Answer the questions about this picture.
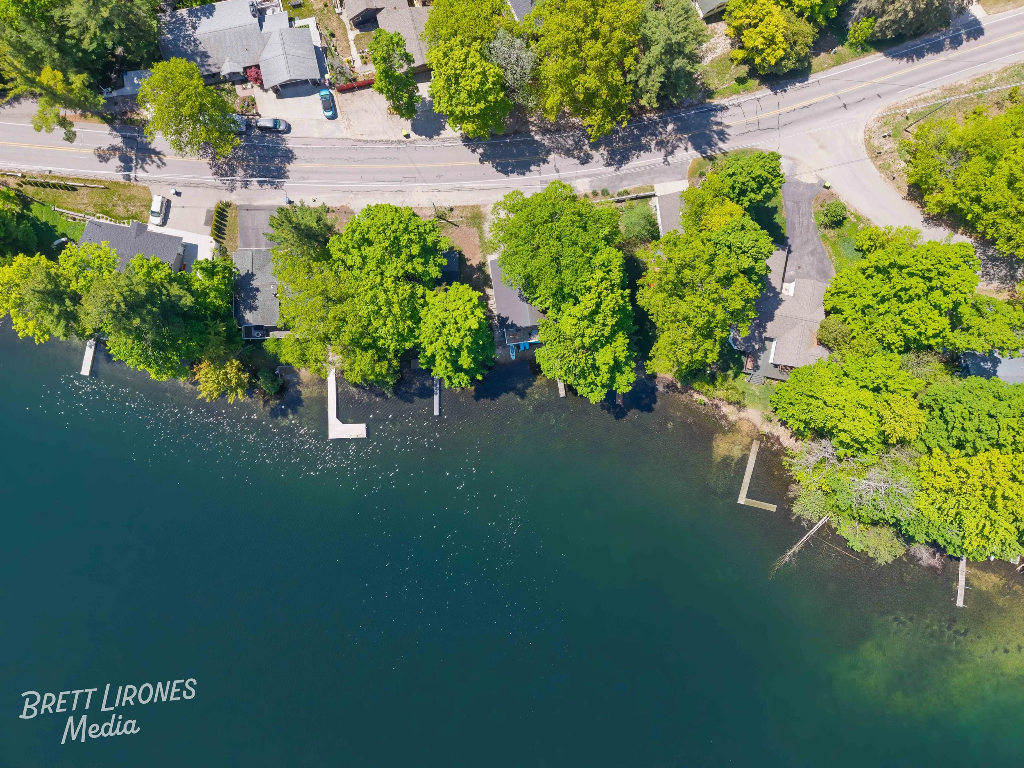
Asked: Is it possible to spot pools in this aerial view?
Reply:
No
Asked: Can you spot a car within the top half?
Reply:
Yes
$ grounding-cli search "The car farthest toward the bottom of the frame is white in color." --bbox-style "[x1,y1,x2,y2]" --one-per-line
[149,194,169,227]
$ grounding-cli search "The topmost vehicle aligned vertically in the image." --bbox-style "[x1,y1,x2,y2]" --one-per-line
[319,90,336,119]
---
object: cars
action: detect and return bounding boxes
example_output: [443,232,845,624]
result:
[149,194,169,227]
[256,117,287,134]
[319,90,336,119]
